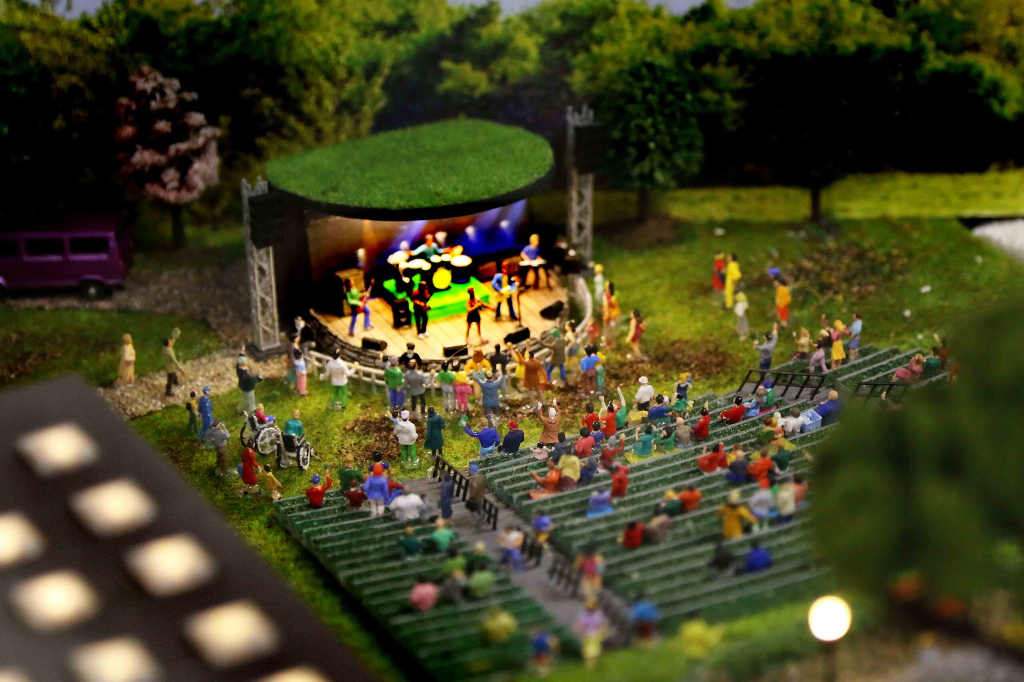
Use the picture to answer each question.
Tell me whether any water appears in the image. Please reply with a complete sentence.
No, the picture contains no water.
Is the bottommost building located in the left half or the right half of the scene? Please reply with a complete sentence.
The bottommost building appears in the left half of the scene.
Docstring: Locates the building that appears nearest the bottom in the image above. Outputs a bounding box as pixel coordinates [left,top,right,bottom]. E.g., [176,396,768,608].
[0,374,329,682]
